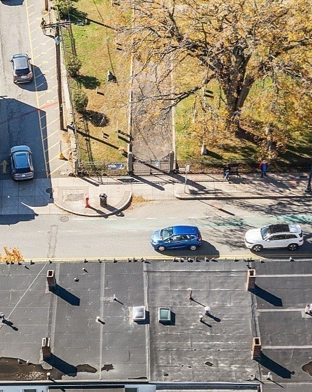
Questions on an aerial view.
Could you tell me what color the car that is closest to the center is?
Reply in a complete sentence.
From above, the car that is closest to the center appears blue.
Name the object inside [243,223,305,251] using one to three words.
car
